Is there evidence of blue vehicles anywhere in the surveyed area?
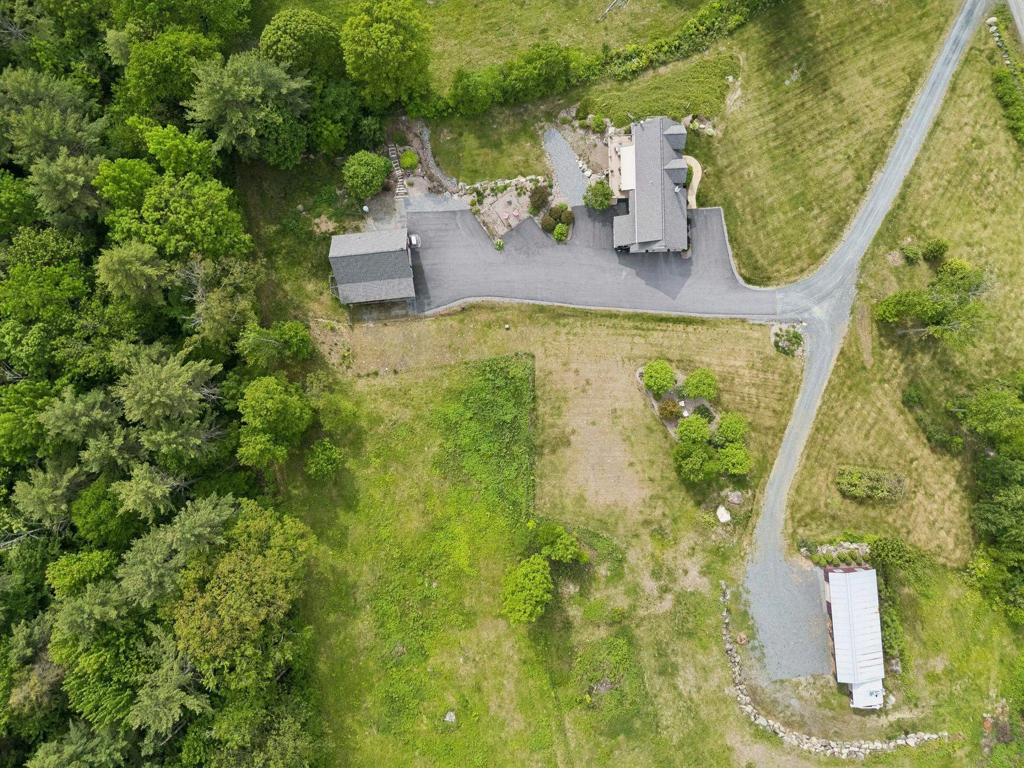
No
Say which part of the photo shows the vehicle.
bottom right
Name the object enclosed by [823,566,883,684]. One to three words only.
barn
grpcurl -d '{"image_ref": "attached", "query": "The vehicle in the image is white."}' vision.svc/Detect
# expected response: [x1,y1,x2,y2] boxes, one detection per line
[845,678,885,710]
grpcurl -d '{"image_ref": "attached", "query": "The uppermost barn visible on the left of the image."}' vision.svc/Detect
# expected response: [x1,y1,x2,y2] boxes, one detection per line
[329,228,415,305]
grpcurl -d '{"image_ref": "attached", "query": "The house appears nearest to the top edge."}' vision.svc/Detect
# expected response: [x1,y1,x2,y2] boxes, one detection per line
[612,115,692,256]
